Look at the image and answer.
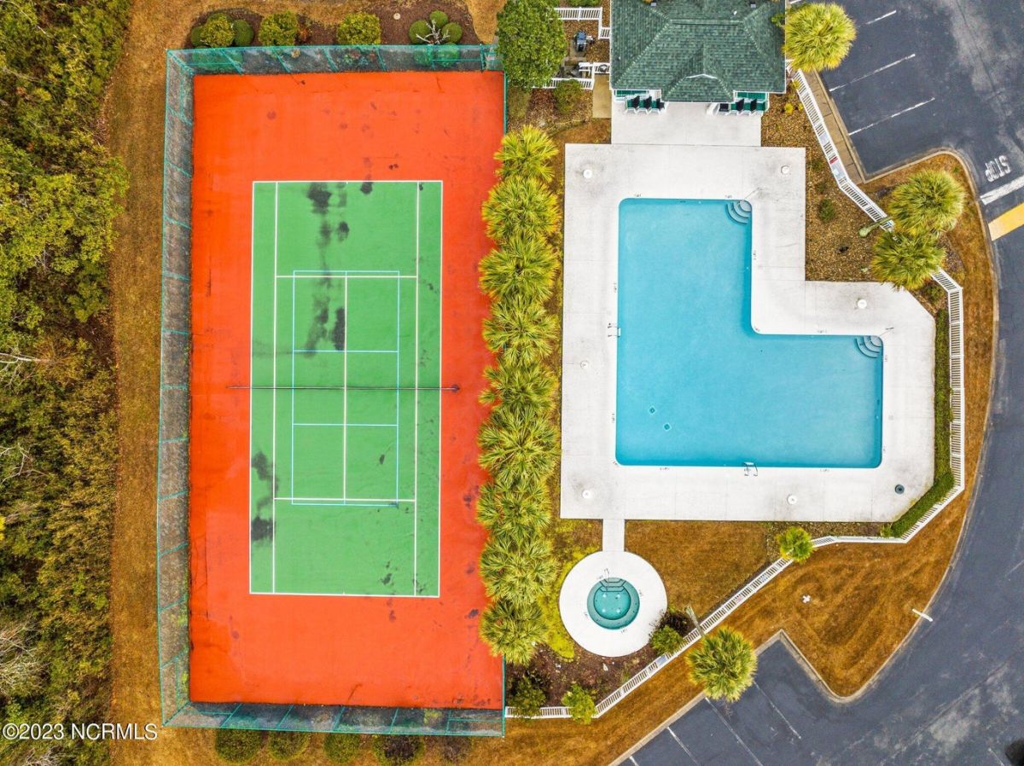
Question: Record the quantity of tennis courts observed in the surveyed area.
1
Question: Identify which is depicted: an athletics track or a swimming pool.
swimming pool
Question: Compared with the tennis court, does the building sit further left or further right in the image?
right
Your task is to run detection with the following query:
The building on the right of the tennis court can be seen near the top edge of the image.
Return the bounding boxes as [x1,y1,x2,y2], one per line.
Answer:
[612,0,786,117]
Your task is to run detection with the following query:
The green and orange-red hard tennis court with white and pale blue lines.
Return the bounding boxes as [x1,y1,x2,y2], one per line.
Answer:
[189,71,504,710]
